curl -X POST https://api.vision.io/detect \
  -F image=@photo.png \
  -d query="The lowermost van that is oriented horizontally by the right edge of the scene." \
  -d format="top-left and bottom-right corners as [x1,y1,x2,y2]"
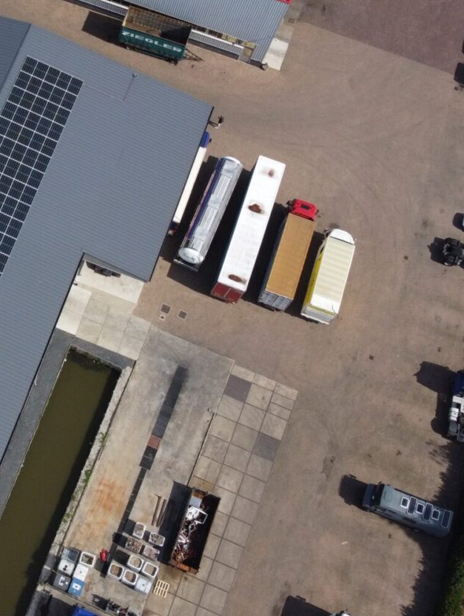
[361,481,461,530]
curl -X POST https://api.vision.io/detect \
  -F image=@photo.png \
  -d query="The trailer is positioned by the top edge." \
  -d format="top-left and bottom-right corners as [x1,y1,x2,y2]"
[119,7,208,59]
